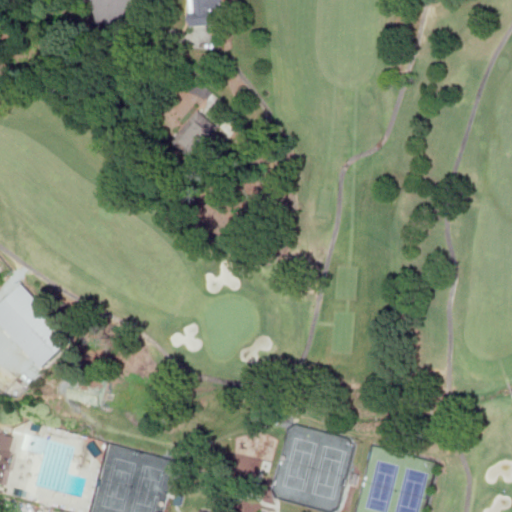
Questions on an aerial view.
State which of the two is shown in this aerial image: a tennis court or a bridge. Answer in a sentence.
Of the two, only a tennis court appears.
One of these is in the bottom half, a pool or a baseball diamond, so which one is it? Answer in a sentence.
Visible in the bottom half is a pool.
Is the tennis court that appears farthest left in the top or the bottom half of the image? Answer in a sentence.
The bottom half of the photo is where the tennis court that appears farthest left is.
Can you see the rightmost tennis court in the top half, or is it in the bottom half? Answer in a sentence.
The rightmost tennis court is in the bottom half of the image.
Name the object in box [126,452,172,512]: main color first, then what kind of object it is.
gray tennis court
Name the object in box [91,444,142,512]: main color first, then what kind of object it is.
gray tennis court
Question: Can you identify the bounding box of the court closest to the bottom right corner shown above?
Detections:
[392,454,435,512]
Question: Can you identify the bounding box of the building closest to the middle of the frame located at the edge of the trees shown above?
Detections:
[174,110,214,154]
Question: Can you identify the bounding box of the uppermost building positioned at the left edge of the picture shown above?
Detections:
[0,280,58,385]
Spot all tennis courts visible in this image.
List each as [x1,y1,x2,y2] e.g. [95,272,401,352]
[357,446,406,512]
[91,444,142,512]
[392,454,435,512]
[272,426,324,506]
[306,432,353,510]
[126,452,172,512]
